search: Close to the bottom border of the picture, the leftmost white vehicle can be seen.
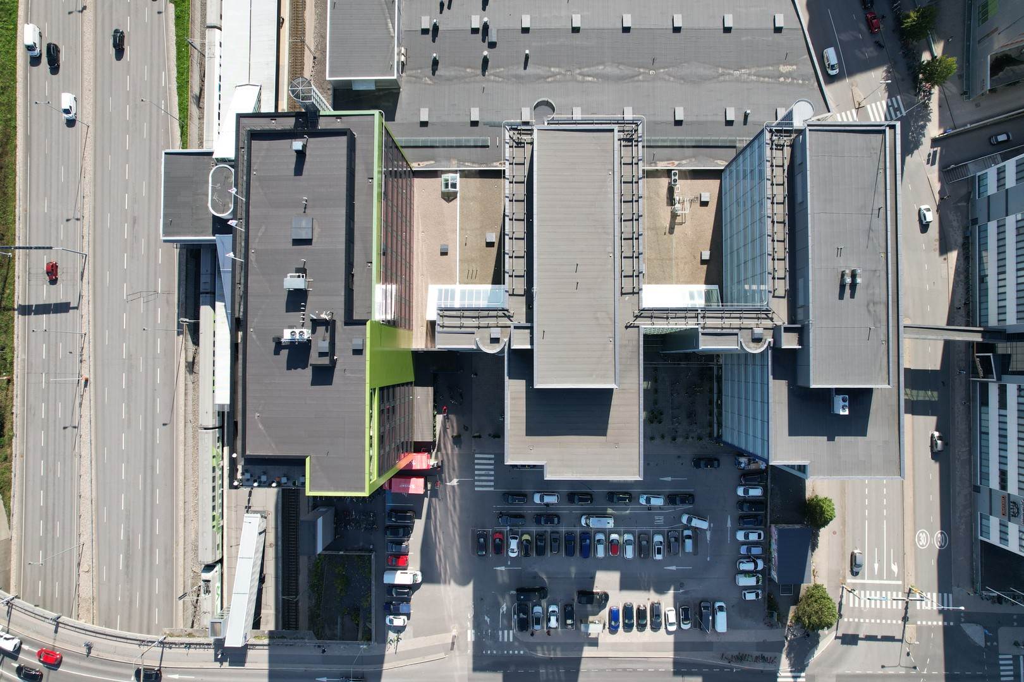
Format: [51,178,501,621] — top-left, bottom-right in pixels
[0,631,22,653]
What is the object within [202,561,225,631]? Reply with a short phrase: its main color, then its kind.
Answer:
white rail car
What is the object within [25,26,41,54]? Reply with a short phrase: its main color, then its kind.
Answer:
white vehicle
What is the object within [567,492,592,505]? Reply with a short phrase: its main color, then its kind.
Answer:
black vehicle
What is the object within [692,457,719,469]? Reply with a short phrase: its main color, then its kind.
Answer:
black vehicle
